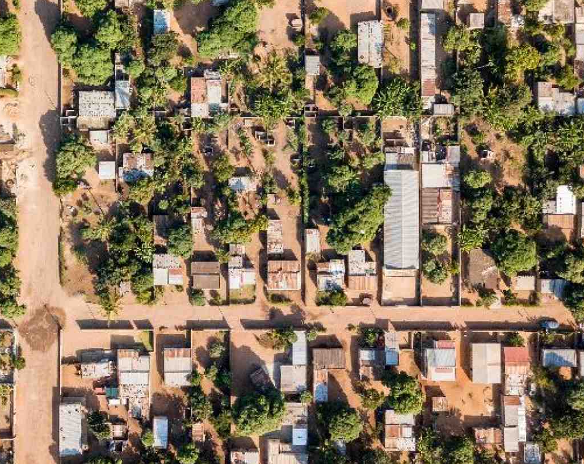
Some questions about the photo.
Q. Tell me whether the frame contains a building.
Yes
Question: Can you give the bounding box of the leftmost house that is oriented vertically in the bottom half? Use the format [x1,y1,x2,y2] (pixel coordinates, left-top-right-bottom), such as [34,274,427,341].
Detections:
[59,403,83,455]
